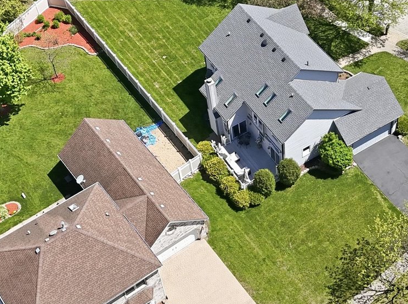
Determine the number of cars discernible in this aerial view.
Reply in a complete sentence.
There are no cars in this view.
